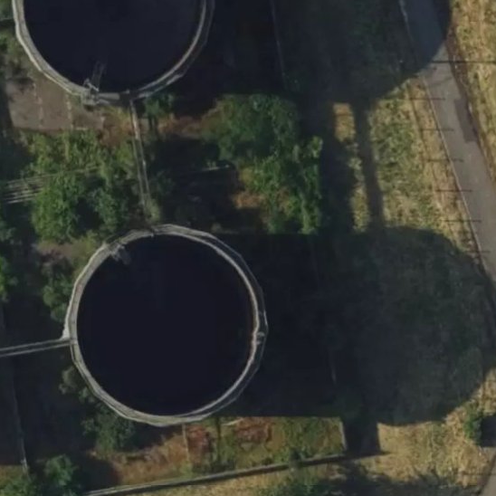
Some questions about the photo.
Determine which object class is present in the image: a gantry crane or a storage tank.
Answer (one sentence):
Visible in the photo is a storage tank.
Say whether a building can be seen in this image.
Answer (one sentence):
No, I find no building anywhere in the image.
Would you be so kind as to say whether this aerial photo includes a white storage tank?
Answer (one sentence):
No, there is no white storage tank in the image.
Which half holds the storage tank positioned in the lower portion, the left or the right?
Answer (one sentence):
The storage tank positioned in the lower portion appears in the left half of the scene.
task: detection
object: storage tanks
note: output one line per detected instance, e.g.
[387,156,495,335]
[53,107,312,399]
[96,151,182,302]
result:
[14,0,212,106]
[63,225,266,424]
